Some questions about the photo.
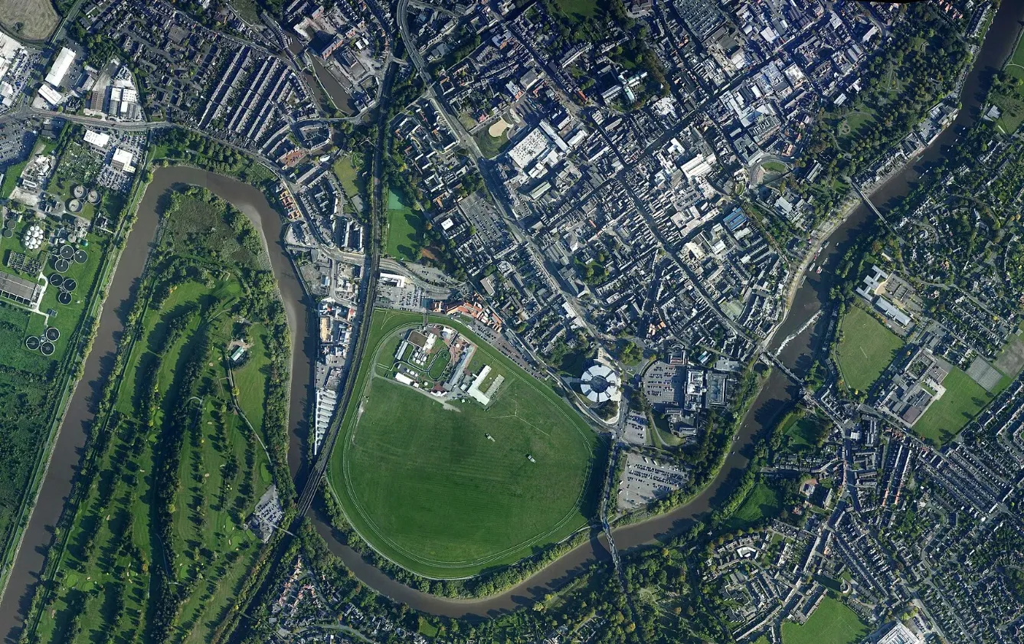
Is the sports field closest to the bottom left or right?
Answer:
right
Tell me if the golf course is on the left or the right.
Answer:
left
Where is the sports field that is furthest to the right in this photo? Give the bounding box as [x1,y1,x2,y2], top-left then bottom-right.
[912,366,1023,444]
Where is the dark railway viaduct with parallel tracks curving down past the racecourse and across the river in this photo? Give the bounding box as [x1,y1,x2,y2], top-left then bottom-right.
[294,75,392,516]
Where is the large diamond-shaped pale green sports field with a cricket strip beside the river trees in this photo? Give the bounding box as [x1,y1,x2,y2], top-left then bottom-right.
[837,308,904,393]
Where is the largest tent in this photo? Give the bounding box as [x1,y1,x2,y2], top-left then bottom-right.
[468,365,491,405]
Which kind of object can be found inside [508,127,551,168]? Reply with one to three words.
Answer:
building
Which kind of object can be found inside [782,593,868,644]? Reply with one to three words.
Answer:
sports field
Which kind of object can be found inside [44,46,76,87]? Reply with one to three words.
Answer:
building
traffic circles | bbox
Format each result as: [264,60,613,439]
[612,335,651,377]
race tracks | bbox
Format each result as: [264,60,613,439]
[326,308,606,578]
